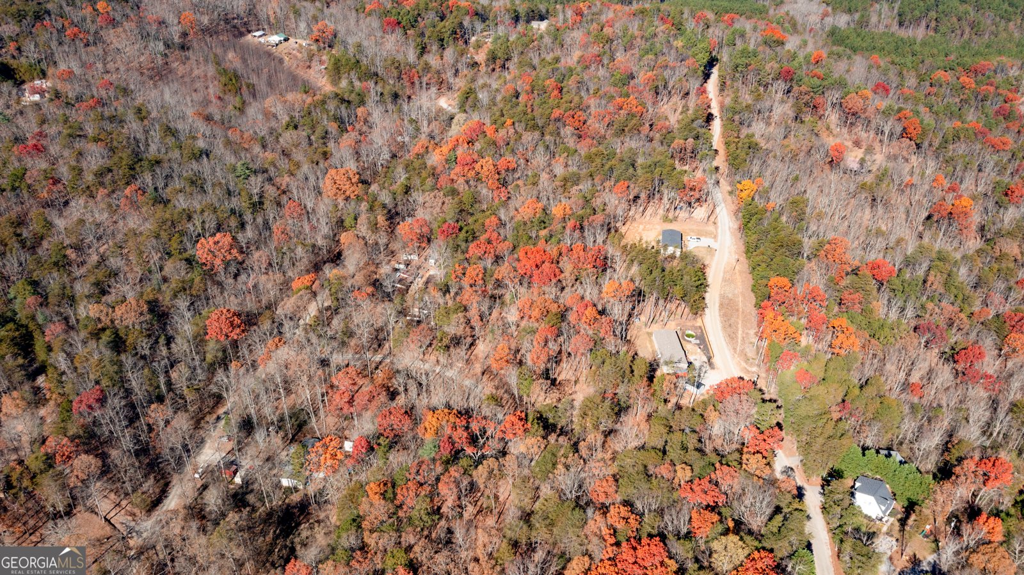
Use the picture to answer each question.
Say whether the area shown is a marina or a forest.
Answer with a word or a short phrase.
forest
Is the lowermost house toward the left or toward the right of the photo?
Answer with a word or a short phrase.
right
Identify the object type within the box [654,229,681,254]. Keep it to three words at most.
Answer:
house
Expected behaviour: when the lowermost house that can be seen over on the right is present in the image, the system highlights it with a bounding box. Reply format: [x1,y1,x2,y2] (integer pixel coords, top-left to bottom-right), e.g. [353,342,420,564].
[854,477,897,535]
